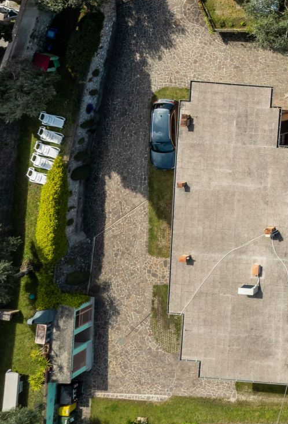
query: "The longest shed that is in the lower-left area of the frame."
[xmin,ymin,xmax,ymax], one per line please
[50,290,103,387]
